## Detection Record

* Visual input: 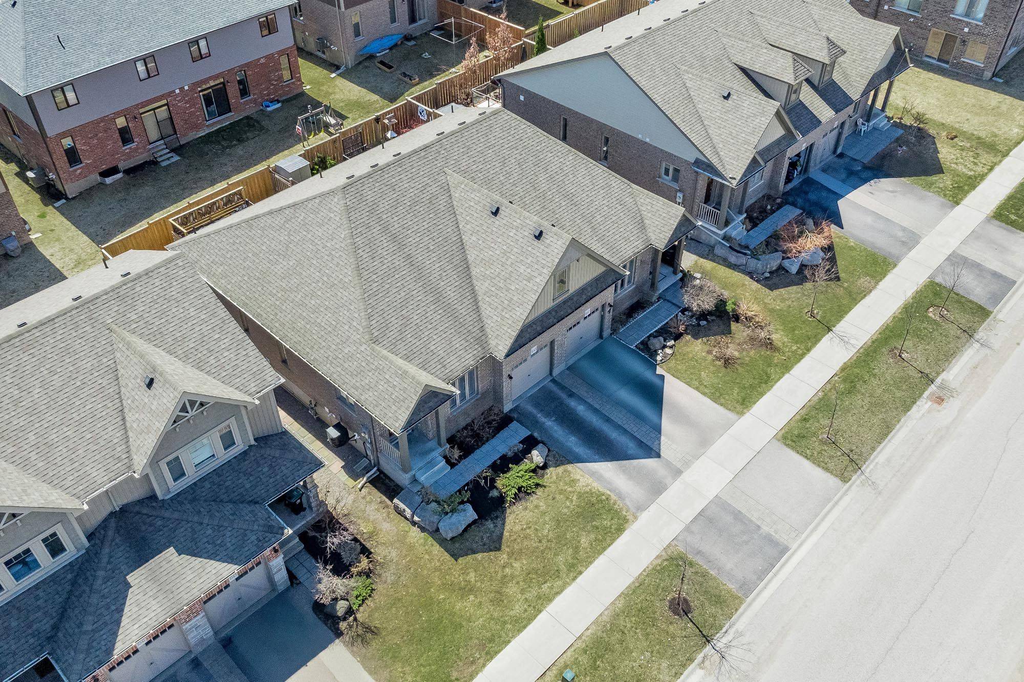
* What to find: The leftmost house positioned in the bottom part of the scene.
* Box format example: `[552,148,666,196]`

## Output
[0,250,329,682]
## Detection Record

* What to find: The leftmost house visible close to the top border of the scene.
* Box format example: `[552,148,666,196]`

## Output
[0,0,305,195]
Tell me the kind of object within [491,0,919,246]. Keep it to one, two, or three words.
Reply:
house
